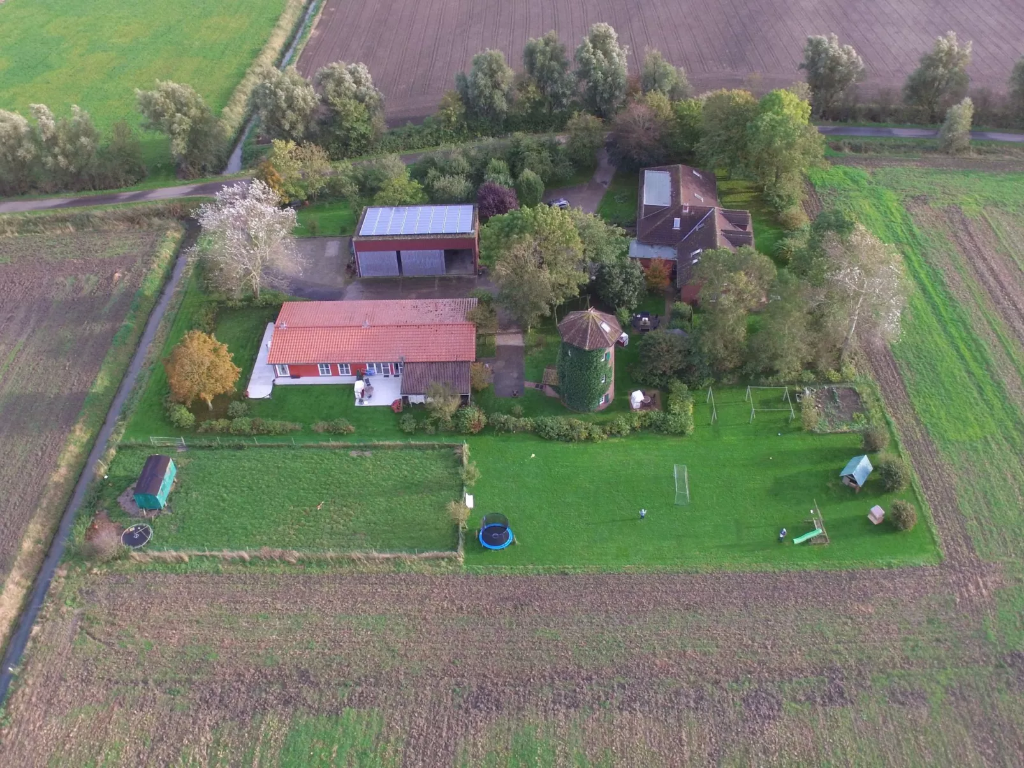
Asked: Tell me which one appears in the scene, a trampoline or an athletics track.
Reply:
trampoline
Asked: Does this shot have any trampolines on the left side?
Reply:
Yes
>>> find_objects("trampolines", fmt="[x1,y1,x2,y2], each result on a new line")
[480,514,513,556]
[122,522,156,553]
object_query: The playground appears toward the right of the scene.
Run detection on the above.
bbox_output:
[805,499,830,543]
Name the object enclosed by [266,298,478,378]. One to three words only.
house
